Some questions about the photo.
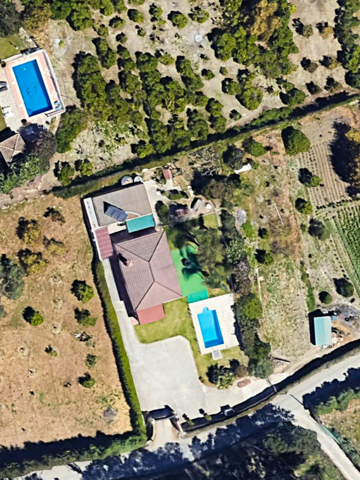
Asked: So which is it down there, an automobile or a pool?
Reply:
pool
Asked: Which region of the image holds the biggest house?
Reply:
center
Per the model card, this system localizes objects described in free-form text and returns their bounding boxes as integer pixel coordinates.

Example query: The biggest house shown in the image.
[115,230,183,324]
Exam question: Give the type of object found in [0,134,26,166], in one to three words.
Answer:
gazebo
